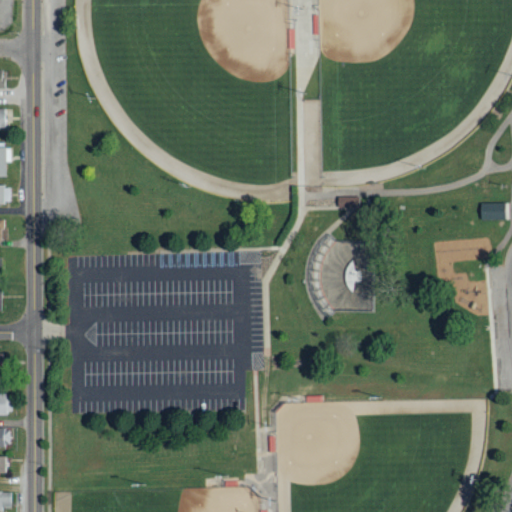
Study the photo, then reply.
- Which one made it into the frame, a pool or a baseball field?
baseball field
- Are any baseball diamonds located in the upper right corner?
Yes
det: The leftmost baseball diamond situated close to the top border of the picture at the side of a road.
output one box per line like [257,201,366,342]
[74,0,291,202]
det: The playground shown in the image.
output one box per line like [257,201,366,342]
[435,238,492,315]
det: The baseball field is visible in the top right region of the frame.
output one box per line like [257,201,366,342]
[320,0,512,187]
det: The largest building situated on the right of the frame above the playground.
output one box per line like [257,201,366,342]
[482,203,511,220]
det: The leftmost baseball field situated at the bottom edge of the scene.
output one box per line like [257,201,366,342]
[54,486,262,512]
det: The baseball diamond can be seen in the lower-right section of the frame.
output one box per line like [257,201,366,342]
[277,399,487,512]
